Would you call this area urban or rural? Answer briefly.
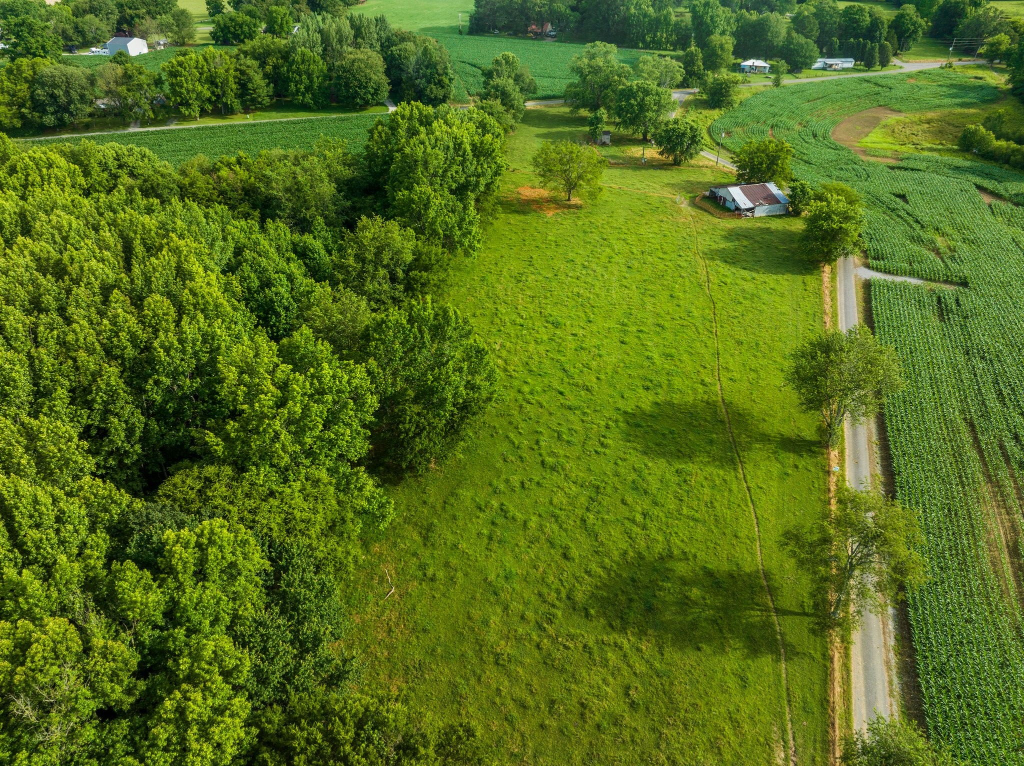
rural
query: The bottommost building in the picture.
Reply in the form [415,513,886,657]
[718,179,793,217]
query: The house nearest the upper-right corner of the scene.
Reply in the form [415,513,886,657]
[805,55,856,70]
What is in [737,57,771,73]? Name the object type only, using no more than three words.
house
